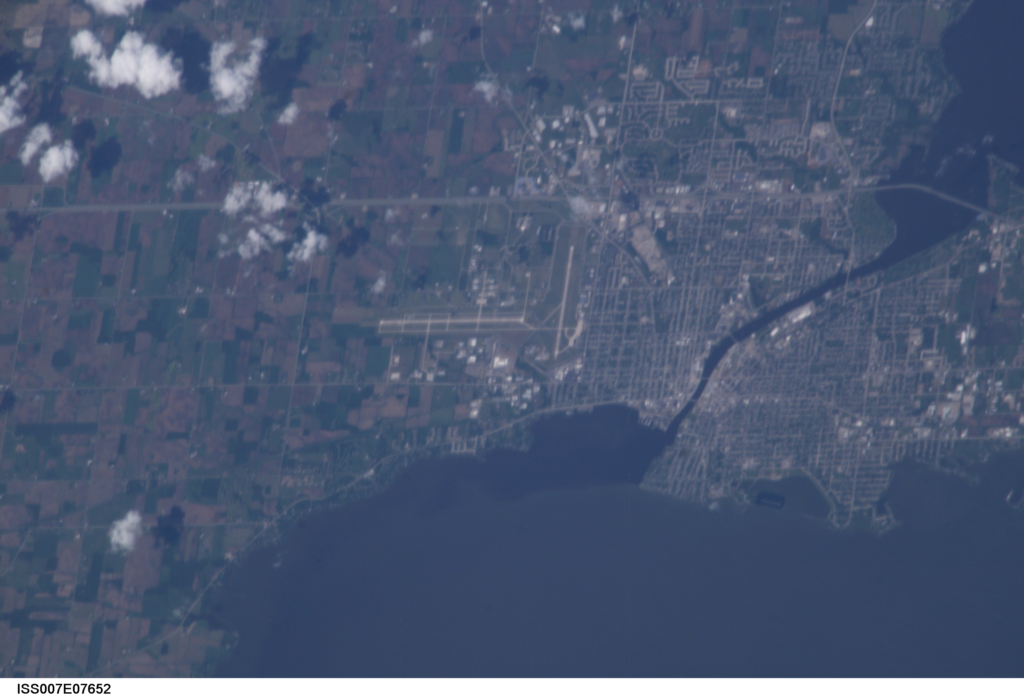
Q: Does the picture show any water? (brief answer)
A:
Yes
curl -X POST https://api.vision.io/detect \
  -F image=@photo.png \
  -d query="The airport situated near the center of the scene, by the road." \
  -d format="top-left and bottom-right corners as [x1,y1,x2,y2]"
[378,228,586,370]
